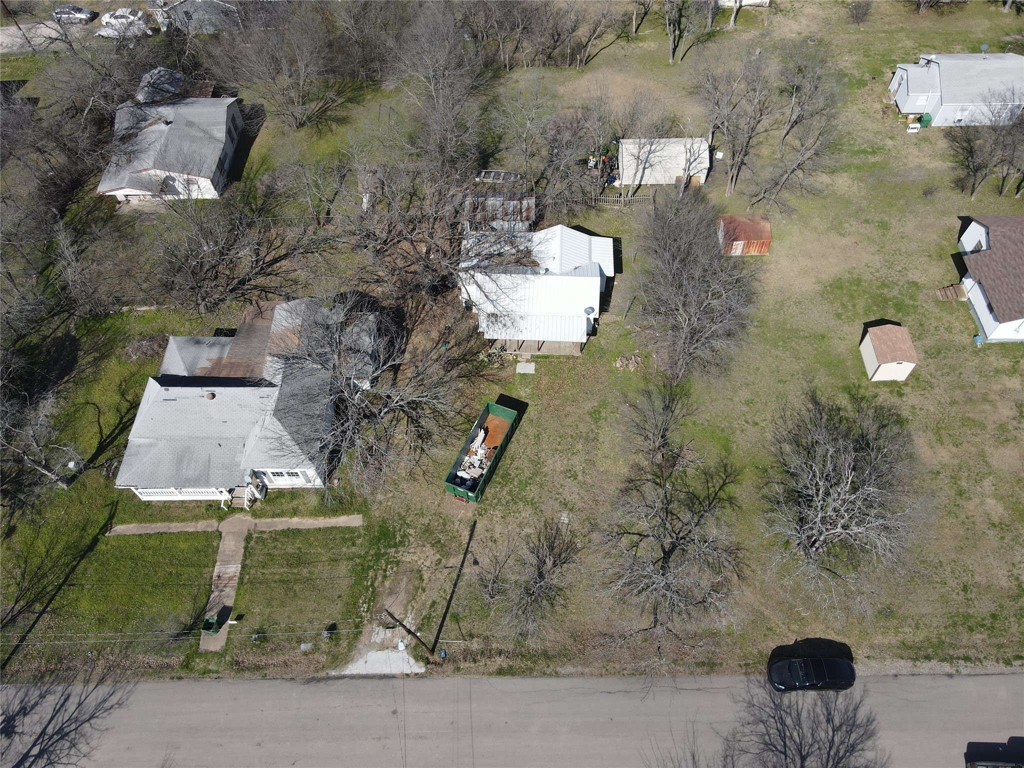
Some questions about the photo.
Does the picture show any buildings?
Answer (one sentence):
Yes, the frame does contain a building.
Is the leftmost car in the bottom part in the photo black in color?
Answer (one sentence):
Yes, the leftmost car in the bottom part appears black.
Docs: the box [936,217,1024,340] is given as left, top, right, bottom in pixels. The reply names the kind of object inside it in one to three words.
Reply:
house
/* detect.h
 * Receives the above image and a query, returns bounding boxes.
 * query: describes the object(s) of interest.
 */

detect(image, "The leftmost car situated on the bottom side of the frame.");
[764,656,856,700]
